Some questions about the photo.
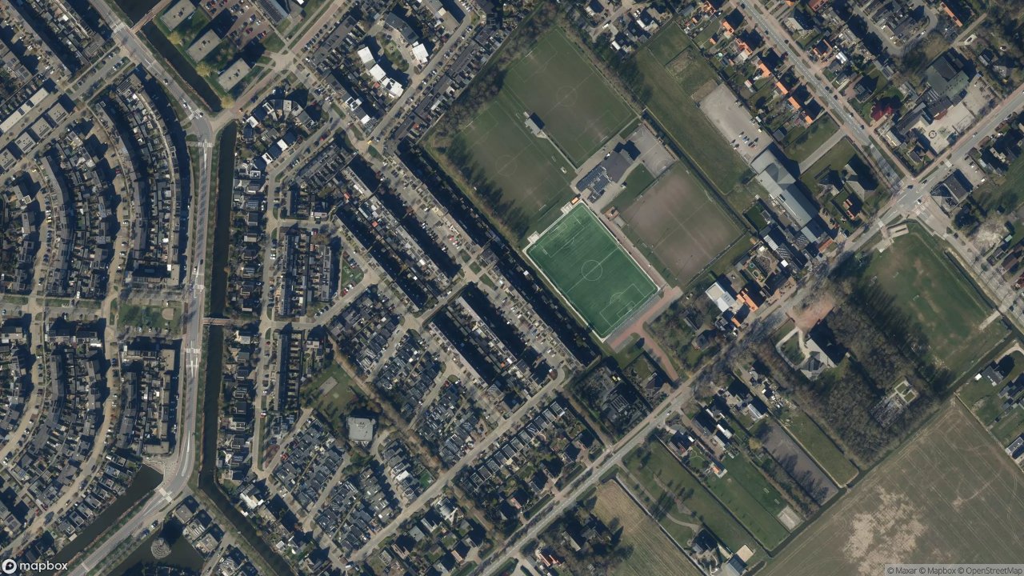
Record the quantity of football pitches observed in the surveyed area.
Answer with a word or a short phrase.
four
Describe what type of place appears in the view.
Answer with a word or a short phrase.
residential area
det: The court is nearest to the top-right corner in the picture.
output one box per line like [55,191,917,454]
[625,123,676,177]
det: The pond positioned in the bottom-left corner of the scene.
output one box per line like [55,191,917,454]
[112,512,205,576]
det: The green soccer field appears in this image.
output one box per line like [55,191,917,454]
[522,199,663,342]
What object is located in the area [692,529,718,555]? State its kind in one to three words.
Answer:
house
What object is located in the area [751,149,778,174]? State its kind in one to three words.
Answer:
building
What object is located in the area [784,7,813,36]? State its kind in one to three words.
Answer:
house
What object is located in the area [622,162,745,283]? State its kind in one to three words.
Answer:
soccer field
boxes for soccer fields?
[450,90,577,225]
[622,162,745,283]
[522,199,663,342]
[500,26,633,165]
